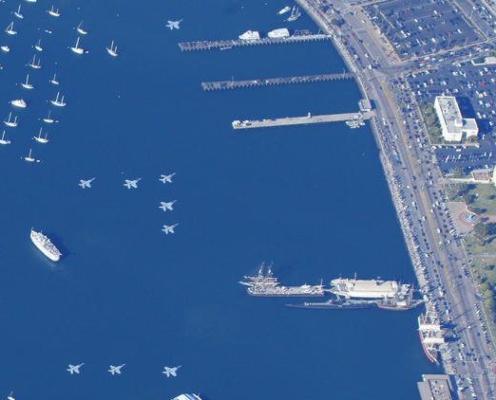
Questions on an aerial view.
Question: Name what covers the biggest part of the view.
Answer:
water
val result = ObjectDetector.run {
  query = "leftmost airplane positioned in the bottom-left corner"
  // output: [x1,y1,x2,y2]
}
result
[64,364,86,377]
